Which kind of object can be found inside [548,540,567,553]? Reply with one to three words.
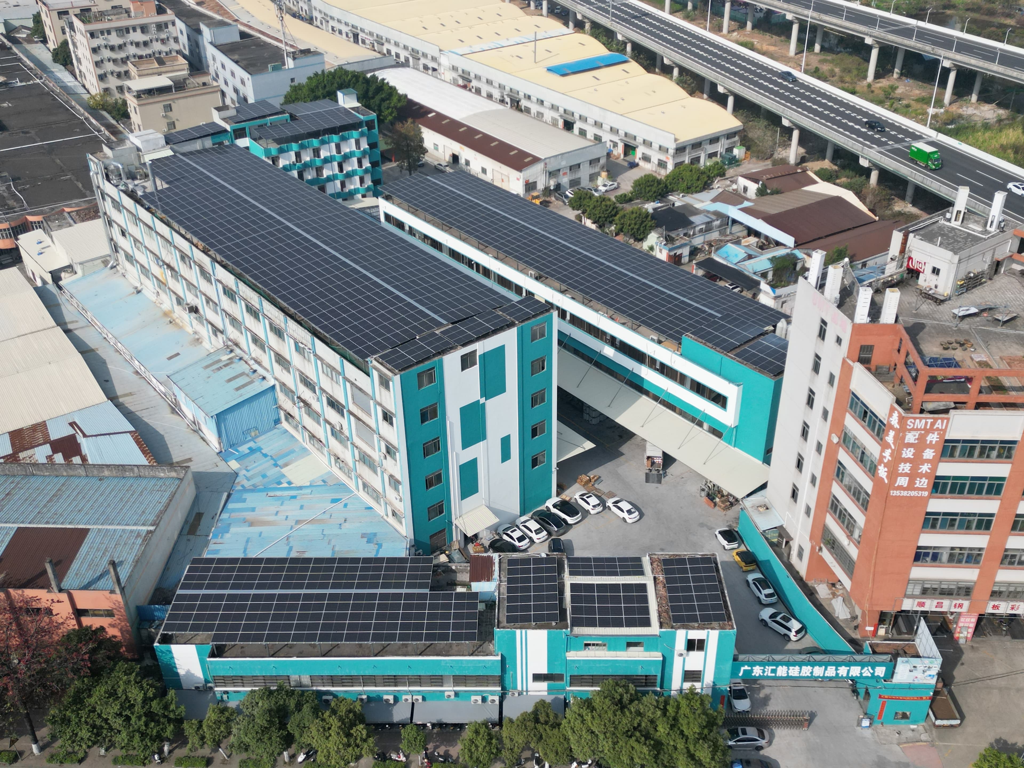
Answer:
vehicle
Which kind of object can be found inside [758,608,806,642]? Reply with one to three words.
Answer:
car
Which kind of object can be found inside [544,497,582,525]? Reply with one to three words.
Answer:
car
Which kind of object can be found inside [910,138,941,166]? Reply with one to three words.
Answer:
truck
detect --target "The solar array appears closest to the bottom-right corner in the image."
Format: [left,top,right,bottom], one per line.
[661,555,728,628]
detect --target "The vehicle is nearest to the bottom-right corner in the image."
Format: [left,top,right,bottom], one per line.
[934,673,963,728]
